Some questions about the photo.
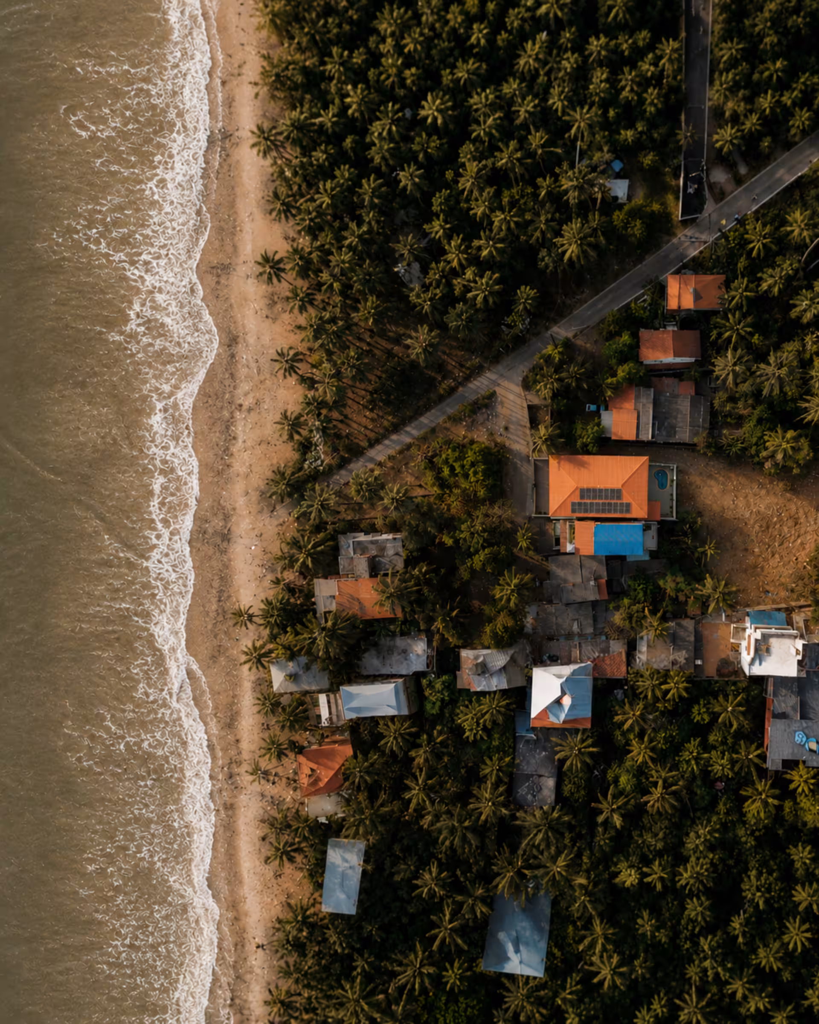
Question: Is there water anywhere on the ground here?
Yes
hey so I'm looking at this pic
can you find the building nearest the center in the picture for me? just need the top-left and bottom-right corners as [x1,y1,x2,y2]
[338,531,404,578]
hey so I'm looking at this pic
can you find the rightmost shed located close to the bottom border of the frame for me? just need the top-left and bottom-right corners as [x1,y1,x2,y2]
[482,885,552,978]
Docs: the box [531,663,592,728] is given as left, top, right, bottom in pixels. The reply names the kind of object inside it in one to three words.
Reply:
house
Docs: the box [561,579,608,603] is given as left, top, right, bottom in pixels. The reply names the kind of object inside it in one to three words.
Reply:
house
